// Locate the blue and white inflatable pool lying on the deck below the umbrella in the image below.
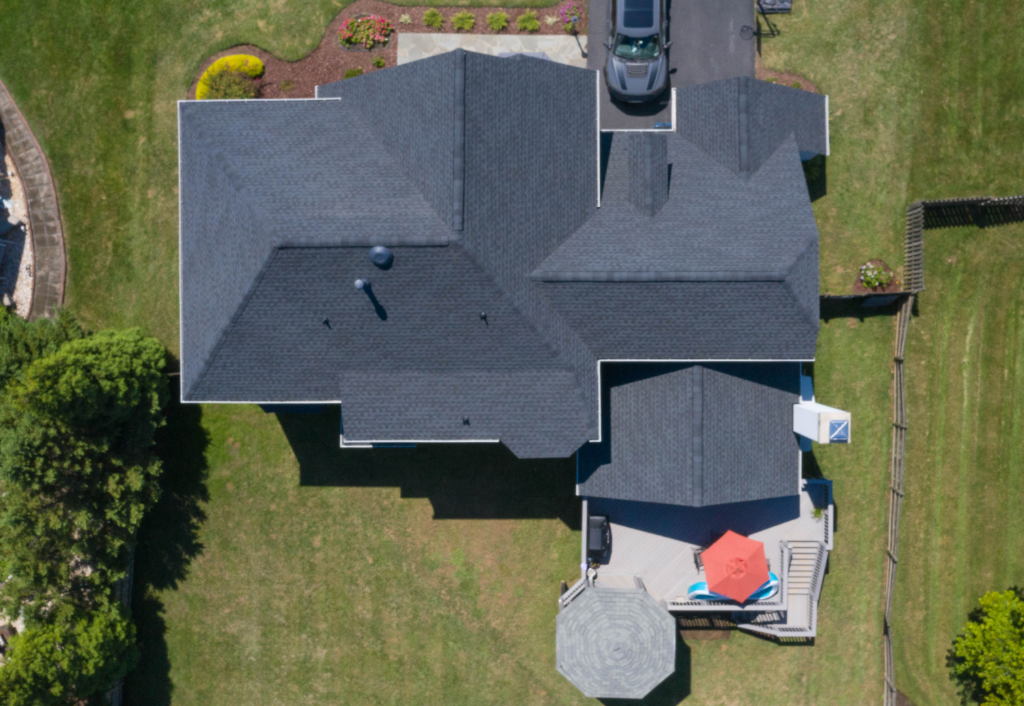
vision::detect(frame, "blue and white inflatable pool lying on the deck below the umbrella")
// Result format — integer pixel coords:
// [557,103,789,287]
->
[685,570,782,603]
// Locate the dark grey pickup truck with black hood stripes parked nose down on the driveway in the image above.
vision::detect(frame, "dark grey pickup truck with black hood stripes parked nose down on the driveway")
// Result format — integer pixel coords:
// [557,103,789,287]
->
[600,0,676,109]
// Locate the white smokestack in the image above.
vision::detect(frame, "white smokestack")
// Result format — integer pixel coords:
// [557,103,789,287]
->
[794,374,852,450]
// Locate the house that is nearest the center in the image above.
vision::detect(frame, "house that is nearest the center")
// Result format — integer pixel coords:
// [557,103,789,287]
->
[178,48,831,507]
